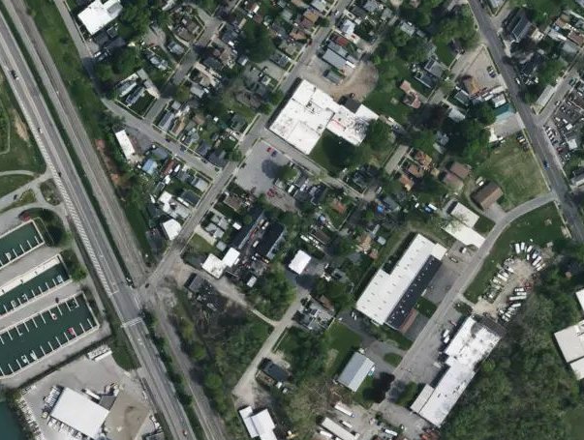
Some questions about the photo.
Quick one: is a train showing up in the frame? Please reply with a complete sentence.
No, there appears to be no train in this shot.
